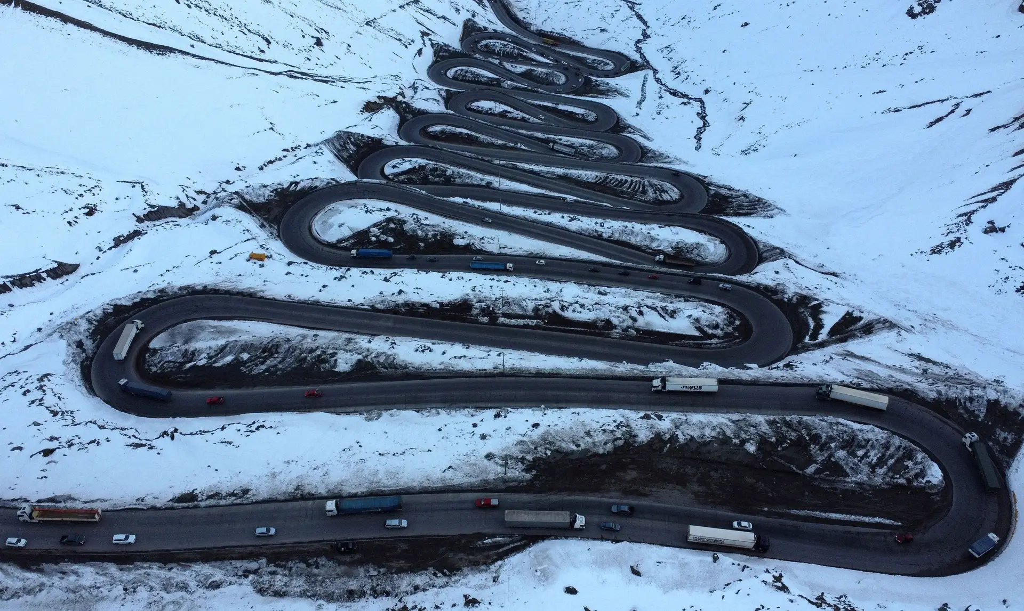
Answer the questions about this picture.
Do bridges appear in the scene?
No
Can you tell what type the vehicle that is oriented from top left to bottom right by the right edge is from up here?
truck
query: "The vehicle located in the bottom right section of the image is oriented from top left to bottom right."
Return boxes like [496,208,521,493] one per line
[957,433,1009,492]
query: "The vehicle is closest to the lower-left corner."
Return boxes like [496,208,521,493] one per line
[1,536,32,549]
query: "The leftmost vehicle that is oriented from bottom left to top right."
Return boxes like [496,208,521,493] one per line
[113,320,149,359]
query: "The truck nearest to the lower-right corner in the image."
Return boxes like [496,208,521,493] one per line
[963,531,1004,561]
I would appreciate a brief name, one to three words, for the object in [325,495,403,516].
truck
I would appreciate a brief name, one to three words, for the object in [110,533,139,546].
vehicle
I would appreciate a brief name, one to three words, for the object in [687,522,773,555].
truck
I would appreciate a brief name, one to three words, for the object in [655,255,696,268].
vehicle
